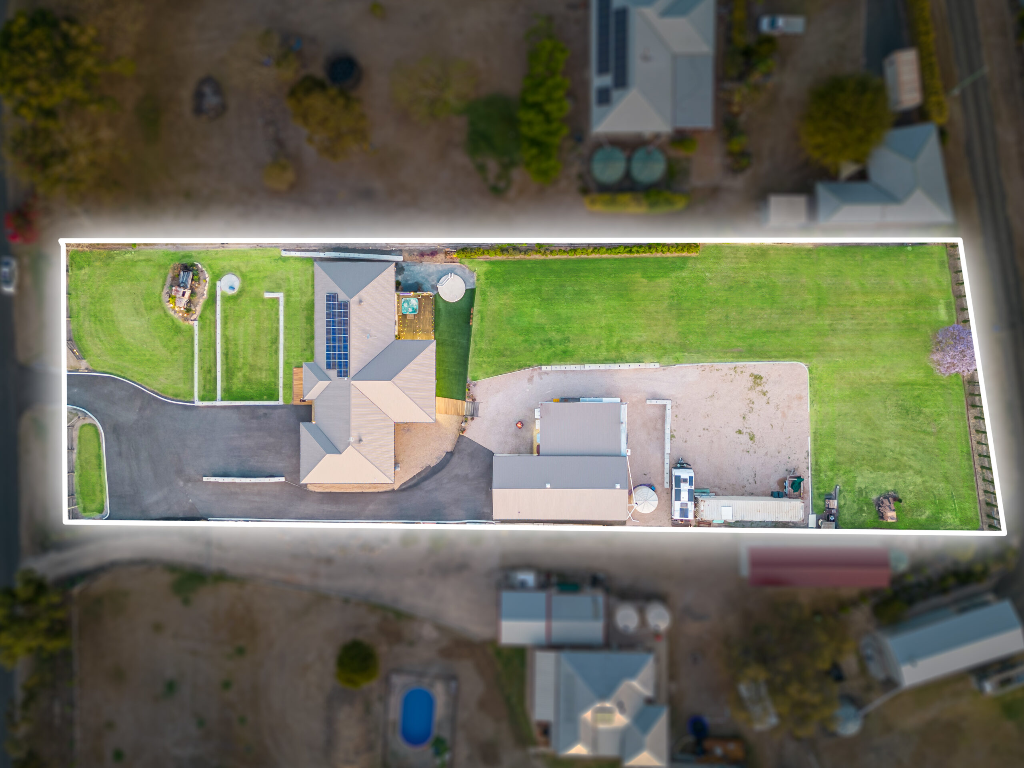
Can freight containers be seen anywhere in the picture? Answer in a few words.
Yes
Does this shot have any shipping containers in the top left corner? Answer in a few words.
No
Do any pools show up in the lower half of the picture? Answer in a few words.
Yes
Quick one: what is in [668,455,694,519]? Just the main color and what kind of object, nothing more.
white camper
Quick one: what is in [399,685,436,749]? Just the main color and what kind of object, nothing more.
blue swimming pool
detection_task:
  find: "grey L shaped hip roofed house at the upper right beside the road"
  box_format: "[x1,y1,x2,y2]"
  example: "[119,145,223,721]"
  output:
[810,181,951,228]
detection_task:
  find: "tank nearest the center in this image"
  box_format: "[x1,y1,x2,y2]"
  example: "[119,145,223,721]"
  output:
[438,274,466,303]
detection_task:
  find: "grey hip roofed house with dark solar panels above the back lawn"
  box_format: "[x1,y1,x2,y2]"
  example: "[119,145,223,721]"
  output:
[591,0,715,136]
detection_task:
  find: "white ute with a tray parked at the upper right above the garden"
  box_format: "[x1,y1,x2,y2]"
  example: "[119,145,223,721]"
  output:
[758,15,804,36]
